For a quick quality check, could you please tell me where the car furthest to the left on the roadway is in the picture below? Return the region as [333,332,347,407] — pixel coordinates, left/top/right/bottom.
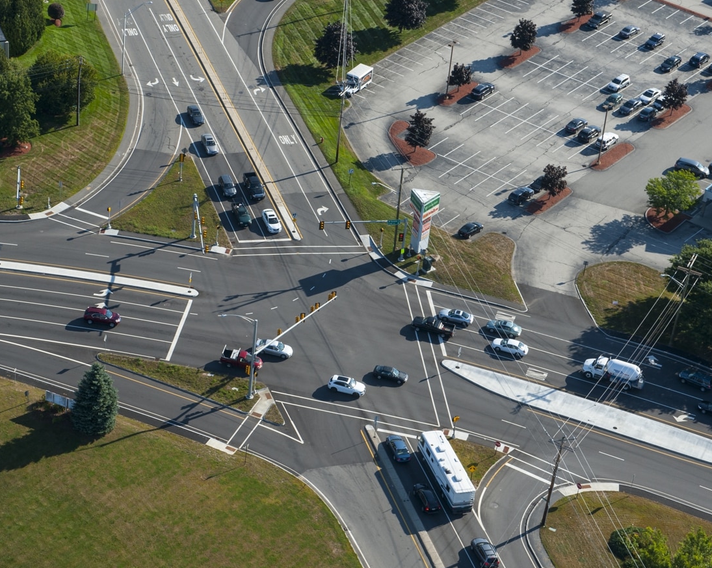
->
[83,304,122,327]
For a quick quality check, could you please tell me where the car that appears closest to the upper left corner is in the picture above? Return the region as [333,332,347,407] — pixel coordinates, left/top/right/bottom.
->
[187,105,205,125]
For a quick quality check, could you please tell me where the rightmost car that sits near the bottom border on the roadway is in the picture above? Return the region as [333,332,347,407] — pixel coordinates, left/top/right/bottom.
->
[472,539,499,568]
